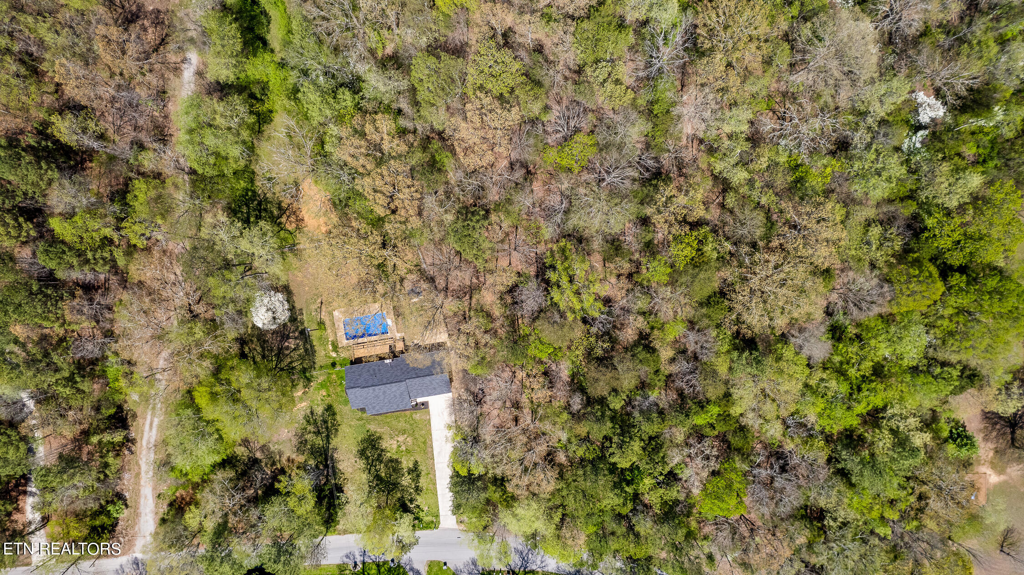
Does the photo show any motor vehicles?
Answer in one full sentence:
No, there is no motor vehicle in the image.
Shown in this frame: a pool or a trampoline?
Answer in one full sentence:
I can see a pool in this picture.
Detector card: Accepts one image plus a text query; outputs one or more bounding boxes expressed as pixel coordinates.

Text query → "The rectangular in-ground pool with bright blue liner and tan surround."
[341,312,390,342]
